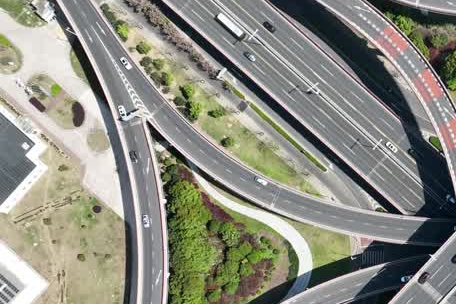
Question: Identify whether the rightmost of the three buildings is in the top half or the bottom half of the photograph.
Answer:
top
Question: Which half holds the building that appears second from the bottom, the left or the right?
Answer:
left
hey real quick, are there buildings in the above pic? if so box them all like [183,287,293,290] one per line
[34,0,64,23]
[0,101,49,219]
[0,238,49,304]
